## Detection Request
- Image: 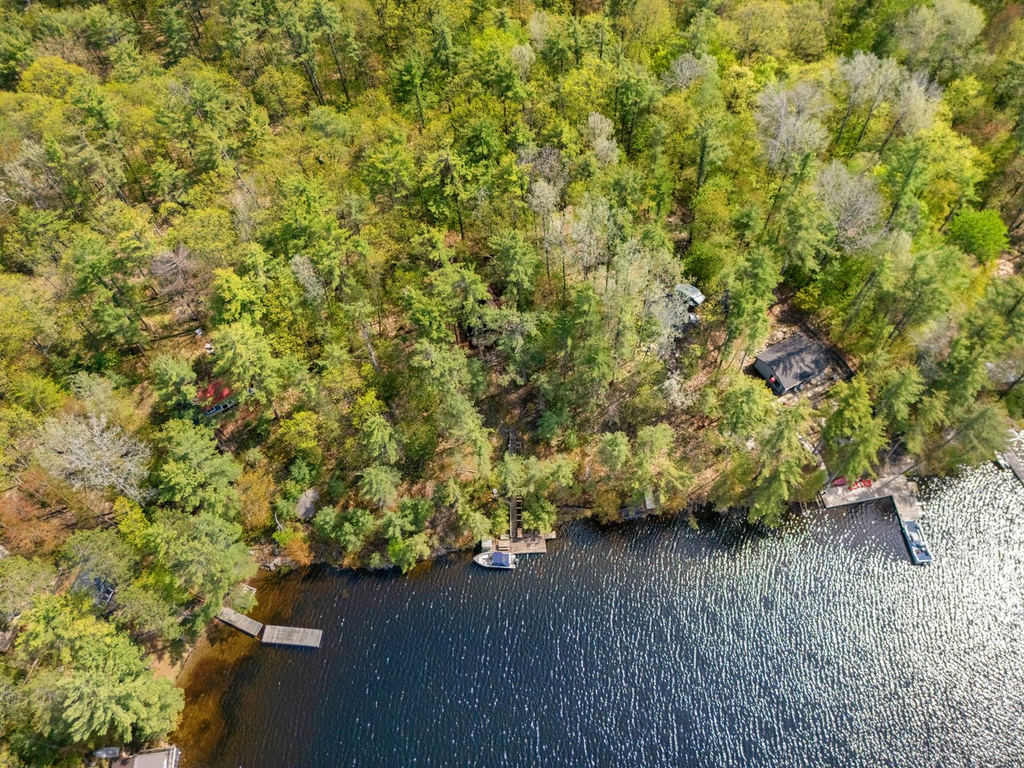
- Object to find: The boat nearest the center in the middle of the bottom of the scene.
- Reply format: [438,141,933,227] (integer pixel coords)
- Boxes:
[473,551,521,571]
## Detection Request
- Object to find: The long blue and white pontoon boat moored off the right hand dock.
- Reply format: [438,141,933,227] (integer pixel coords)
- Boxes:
[901,519,934,566]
